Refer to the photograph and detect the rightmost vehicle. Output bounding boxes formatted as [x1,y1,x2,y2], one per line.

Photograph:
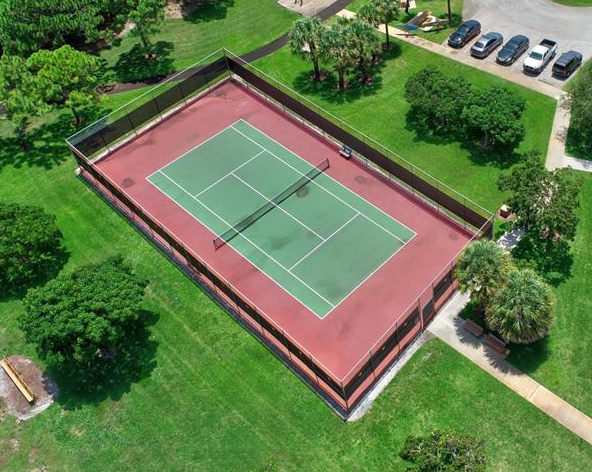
[550,53,584,83]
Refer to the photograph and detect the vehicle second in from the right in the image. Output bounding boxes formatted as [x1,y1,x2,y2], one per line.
[522,40,560,78]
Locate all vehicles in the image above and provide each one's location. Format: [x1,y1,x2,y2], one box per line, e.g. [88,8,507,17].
[470,35,504,63]
[449,21,480,49]
[497,37,530,67]
[550,53,584,83]
[522,40,560,78]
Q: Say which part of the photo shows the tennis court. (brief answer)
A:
center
